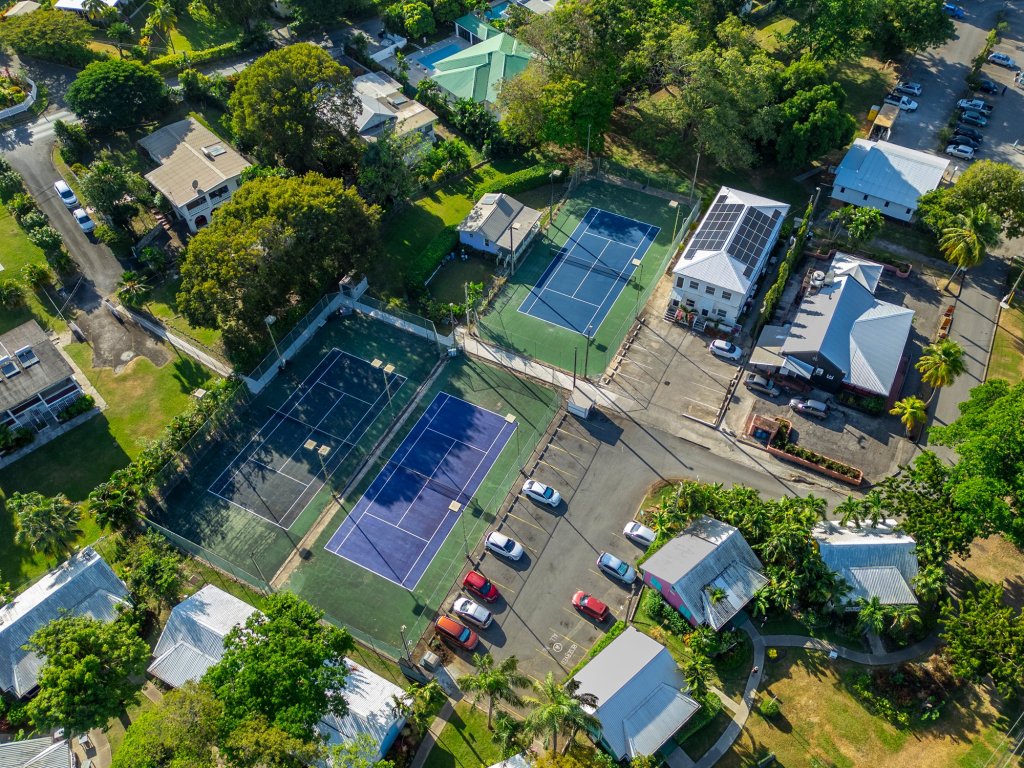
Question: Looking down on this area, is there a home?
Yes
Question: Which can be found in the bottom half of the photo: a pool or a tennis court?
tennis court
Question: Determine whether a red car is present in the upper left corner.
No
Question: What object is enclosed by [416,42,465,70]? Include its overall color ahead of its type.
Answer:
blue swimming pool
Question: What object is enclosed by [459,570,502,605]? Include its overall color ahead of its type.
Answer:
red car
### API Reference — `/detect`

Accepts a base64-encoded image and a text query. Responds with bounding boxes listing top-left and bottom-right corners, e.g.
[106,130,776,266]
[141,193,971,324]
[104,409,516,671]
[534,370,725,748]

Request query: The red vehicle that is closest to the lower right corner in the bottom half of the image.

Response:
[568,587,611,622]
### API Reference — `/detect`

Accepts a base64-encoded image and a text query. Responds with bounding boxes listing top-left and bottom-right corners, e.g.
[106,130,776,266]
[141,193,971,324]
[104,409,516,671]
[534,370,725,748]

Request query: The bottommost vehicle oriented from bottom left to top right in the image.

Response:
[869,104,900,141]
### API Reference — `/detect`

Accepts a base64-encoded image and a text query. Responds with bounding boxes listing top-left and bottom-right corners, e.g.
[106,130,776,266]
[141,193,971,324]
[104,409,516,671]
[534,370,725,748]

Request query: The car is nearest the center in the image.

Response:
[521,478,561,507]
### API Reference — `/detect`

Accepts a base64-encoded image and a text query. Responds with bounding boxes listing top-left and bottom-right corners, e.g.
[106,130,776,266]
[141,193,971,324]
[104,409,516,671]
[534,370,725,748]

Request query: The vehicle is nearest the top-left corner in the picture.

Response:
[55,181,78,204]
